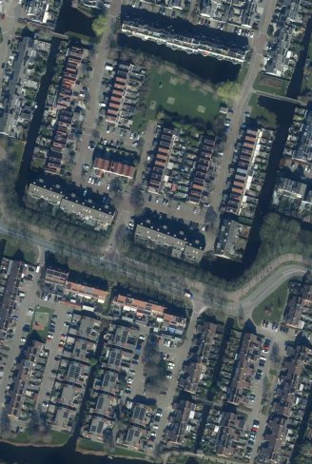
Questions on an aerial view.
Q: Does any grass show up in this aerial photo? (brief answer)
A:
Yes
